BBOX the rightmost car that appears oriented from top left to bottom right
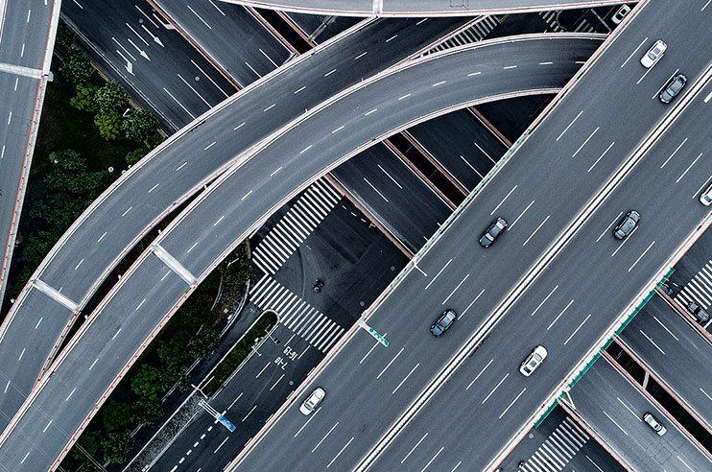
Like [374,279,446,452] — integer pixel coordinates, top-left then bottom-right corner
[686,302,710,323]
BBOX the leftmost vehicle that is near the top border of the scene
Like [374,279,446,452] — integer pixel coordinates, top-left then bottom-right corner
[609,5,630,25]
